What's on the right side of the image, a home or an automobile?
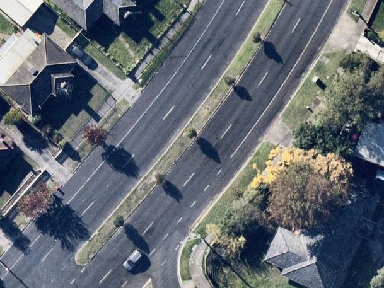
home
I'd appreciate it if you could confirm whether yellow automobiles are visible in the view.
No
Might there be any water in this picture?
No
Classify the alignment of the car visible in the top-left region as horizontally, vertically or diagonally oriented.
diagonally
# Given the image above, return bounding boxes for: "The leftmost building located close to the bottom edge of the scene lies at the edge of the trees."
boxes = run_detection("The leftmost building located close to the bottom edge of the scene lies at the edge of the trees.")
[263,201,377,288]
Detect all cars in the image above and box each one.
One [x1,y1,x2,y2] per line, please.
[72,45,97,70]
[122,247,144,274]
